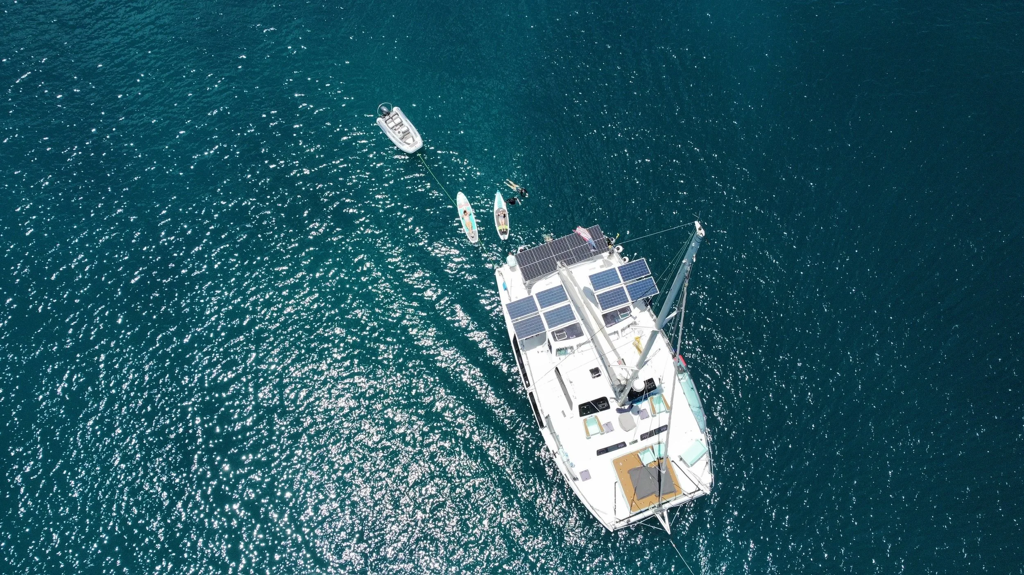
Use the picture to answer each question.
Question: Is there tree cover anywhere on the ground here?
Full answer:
No, there is no tree cover in the image.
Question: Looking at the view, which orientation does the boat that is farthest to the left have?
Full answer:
The boat that is farthest to the left runs at an angle in the image.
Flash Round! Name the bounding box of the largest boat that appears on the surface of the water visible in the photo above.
[497,204,714,536]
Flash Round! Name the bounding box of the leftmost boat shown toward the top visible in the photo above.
[377,103,421,151]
